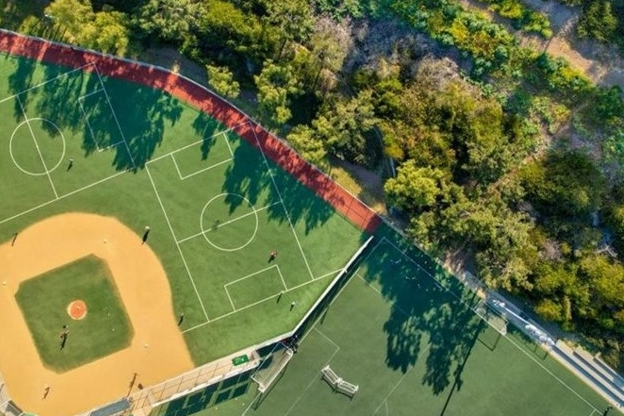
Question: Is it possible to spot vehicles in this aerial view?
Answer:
No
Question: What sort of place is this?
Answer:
sports ground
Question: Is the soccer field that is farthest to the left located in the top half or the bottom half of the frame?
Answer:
top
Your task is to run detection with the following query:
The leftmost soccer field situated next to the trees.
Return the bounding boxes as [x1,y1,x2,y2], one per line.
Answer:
[0,63,135,224]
